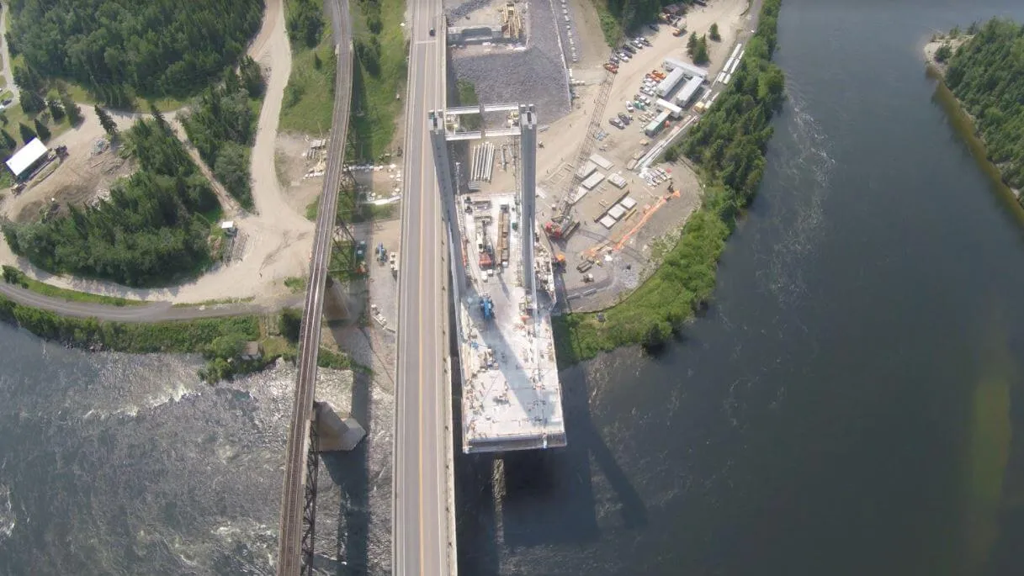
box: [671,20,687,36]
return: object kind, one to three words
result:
vehicle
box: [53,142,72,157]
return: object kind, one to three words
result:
work vehicle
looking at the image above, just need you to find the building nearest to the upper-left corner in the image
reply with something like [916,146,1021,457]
[4,142,57,184]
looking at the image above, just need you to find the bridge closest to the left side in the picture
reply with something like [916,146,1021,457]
[276,44,368,576]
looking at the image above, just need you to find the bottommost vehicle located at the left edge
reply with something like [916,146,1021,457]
[4,178,25,197]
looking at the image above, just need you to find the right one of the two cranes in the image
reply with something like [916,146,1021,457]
[548,64,616,237]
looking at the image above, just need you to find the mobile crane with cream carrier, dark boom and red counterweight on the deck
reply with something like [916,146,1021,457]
[466,204,497,255]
